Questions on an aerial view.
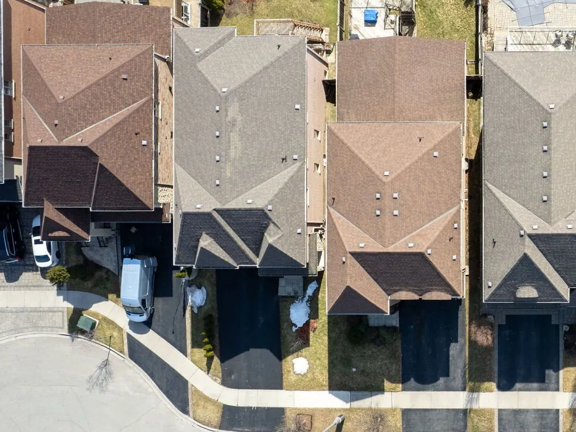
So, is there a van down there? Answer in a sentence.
Yes, there is a van in the image.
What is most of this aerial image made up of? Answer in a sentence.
The bulk of the photo consists of buildings.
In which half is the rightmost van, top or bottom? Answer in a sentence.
You can find the rightmost van in the bottom half.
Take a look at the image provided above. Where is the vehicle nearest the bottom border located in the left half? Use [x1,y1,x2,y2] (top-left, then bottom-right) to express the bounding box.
[119,252,160,322]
